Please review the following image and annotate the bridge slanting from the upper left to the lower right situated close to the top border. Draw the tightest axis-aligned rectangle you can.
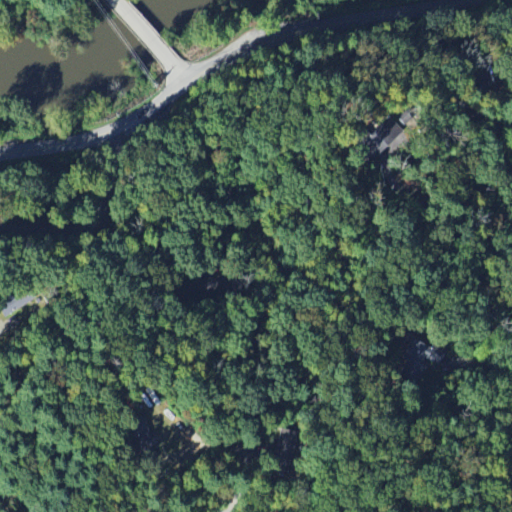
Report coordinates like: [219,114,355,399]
[106,0,184,68]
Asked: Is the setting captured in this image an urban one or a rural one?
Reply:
rural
